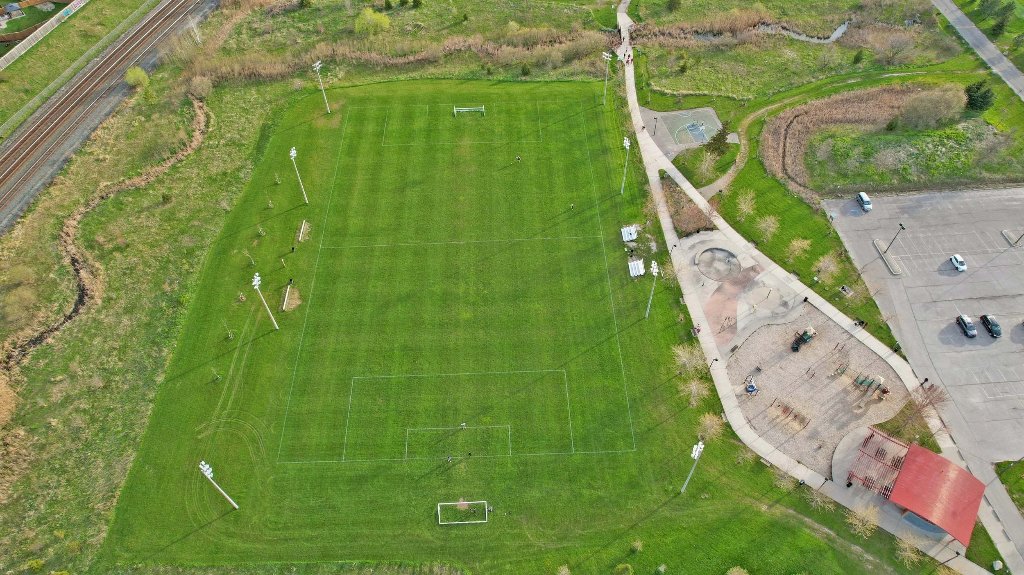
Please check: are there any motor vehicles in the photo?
Yes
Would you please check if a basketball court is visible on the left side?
No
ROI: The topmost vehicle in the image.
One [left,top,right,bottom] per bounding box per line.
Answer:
[855,194,873,212]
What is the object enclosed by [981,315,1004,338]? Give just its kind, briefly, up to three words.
car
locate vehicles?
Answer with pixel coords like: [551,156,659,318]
[855,194,873,212]
[950,255,969,272]
[958,315,979,338]
[981,315,1004,338]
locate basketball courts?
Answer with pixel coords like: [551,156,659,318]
[659,109,727,144]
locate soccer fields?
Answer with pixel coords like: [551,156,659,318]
[273,99,641,467]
